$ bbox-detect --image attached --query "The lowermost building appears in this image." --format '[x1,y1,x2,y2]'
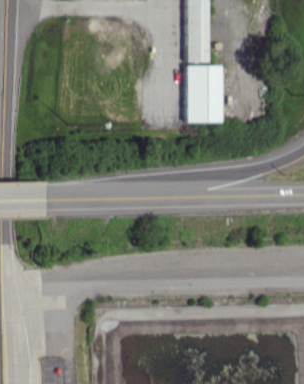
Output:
[184,65,224,123]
